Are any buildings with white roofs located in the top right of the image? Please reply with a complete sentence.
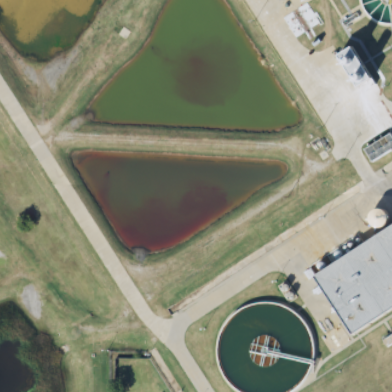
Yes, a building with a white roof can be seen in the top right of the image.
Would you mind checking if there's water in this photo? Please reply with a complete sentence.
Yes, there is water in the image.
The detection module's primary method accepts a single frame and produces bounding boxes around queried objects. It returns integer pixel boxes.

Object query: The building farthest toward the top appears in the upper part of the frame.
[284,4,324,40]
